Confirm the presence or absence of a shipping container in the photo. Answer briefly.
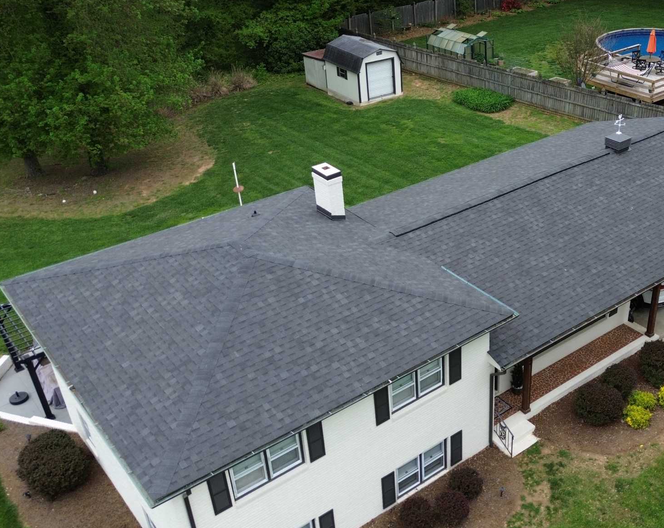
No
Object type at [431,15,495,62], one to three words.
greenhouse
